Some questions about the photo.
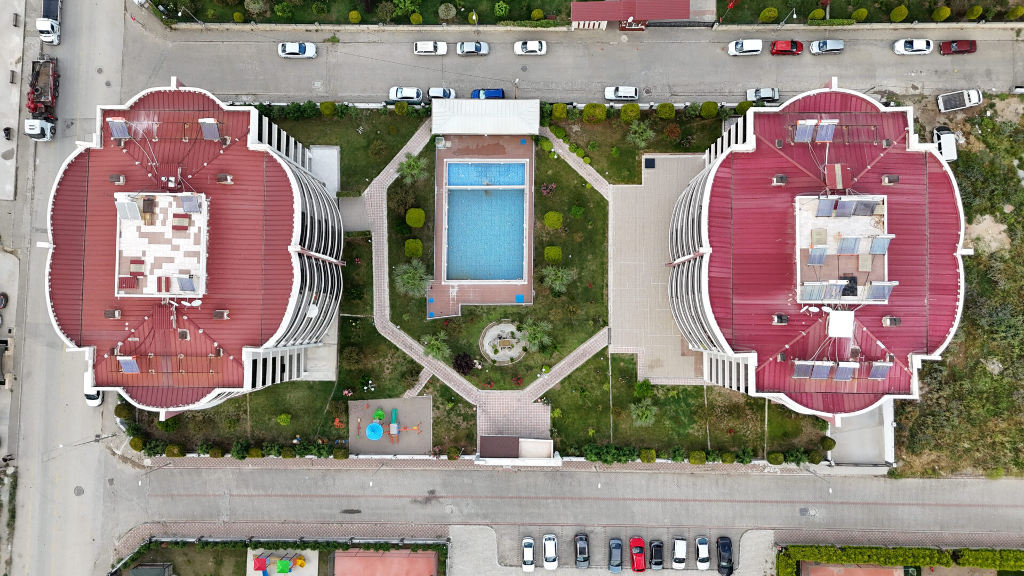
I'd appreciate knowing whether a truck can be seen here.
Yes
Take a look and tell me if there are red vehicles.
Yes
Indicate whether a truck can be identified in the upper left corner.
Yes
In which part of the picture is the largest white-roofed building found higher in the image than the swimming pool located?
top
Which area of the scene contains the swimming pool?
center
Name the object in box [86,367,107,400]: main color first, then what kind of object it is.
white vehicle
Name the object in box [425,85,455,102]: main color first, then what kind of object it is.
white car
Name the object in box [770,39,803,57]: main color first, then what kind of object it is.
red car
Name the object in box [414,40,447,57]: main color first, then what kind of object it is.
white car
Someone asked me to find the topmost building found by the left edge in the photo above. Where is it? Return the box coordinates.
[38,77,340,419]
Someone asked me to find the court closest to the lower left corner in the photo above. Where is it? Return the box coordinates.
[326,551,437,576]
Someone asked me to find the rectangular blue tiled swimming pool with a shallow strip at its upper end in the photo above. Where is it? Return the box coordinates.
[426,135,534,319]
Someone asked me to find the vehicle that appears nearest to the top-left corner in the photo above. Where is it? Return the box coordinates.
[38,0,64,47]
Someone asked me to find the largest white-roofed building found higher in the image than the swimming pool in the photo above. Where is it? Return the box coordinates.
[432,99,540,138]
